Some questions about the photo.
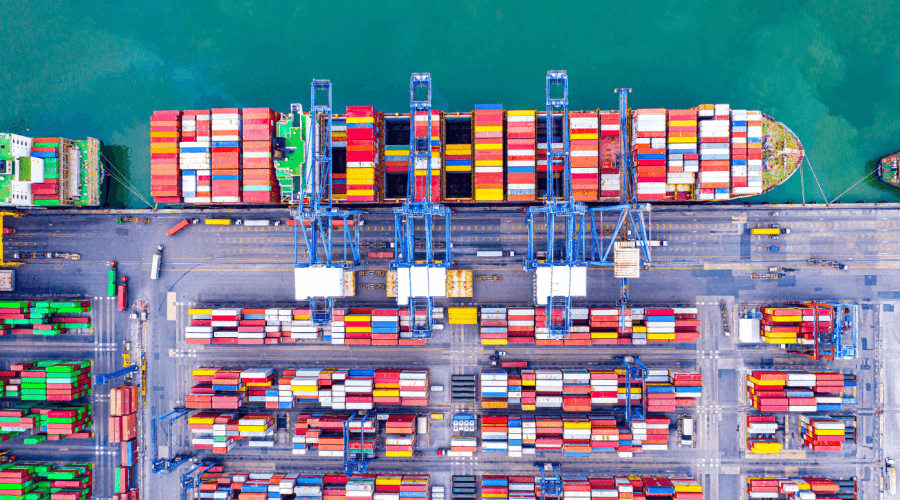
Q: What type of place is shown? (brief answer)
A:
port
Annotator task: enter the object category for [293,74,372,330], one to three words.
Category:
container crane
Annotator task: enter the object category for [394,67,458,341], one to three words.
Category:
container crane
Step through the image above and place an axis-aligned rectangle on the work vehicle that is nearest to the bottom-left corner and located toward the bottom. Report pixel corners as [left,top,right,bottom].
[87,367,136,391]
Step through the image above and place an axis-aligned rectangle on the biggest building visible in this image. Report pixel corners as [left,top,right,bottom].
[740,318,766,344]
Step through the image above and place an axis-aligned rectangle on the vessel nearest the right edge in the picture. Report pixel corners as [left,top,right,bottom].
[868,154,900,193]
